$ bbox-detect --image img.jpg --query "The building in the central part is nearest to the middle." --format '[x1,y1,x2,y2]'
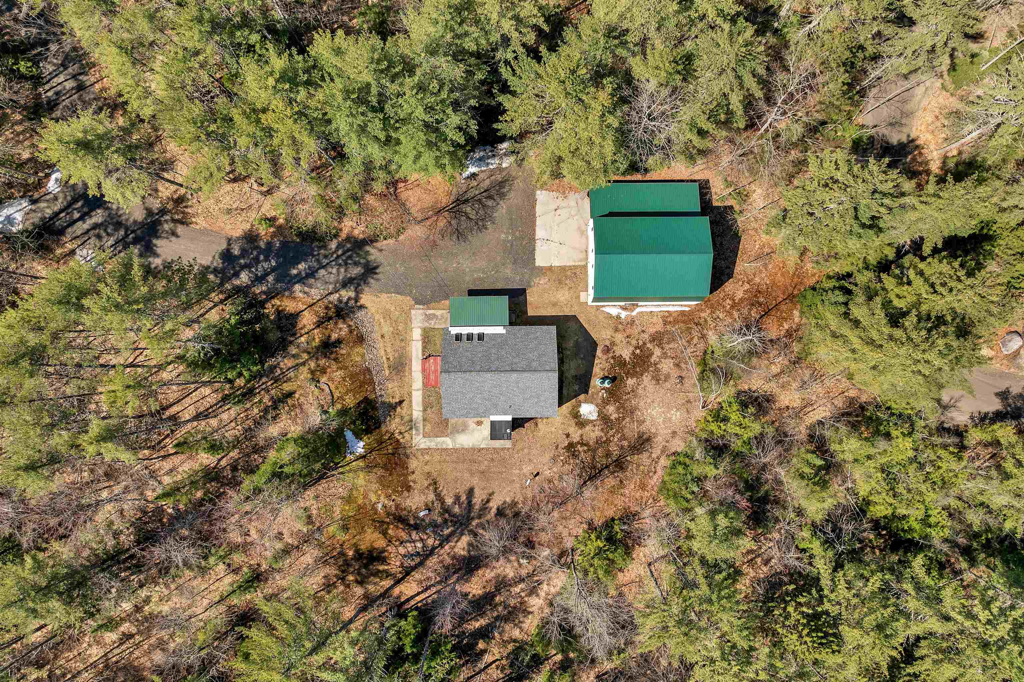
[439,296,558,440]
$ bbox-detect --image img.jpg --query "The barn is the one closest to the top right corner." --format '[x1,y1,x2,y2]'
[587,182,715,305]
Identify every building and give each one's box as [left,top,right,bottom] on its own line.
[587,182,715,305]
[439,296,558,440]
